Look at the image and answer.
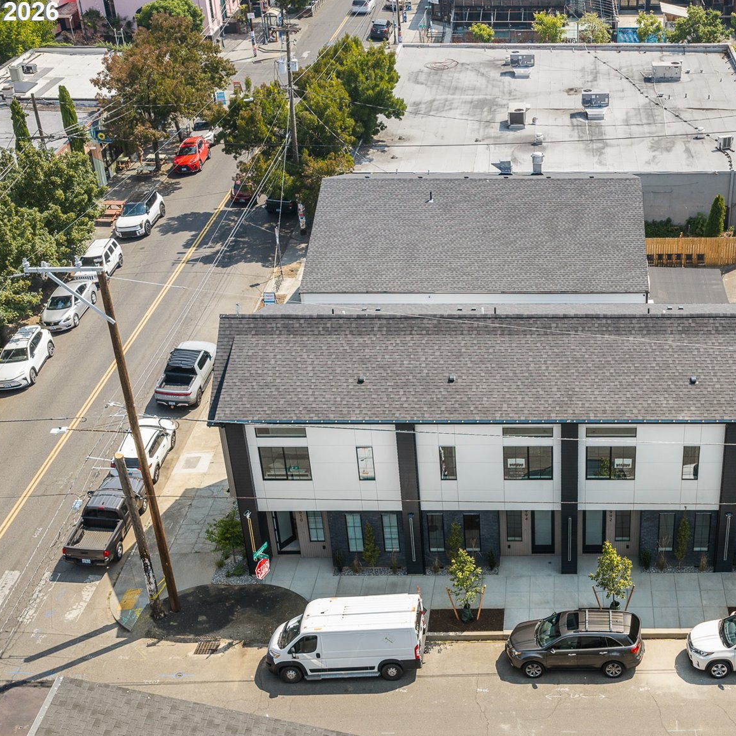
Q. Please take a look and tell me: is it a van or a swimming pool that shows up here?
van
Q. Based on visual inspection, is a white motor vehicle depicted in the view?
Yes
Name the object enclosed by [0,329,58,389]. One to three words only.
car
